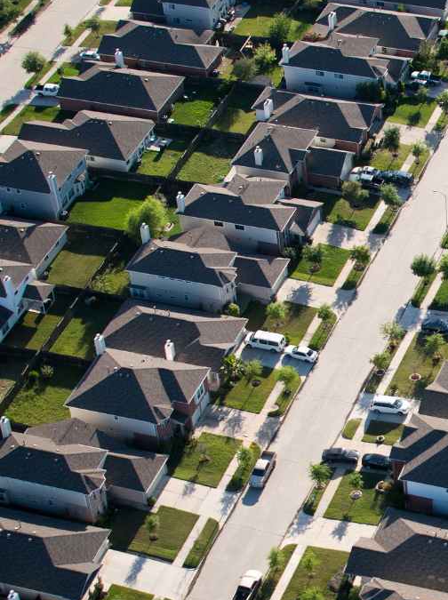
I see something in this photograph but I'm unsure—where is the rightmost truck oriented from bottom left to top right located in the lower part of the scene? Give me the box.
[248,446,278,482]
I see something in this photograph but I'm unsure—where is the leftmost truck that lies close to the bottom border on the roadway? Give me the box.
[228,568,261,600]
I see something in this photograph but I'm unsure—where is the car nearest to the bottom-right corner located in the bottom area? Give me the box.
[360,449,396,468]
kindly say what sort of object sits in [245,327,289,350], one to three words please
vehicle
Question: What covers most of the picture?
buildings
